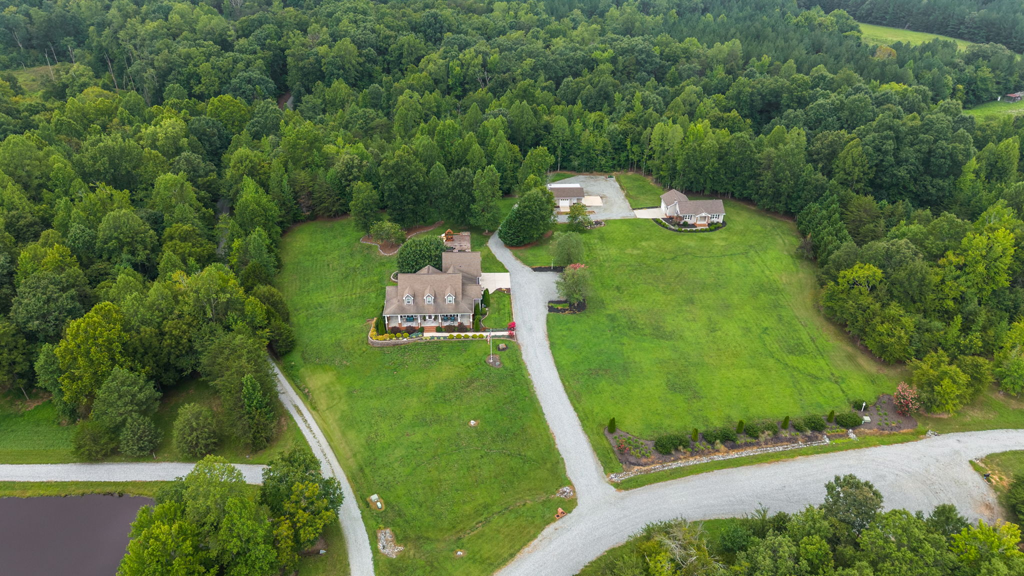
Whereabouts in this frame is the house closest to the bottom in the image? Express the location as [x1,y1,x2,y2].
[383,251,481,333]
